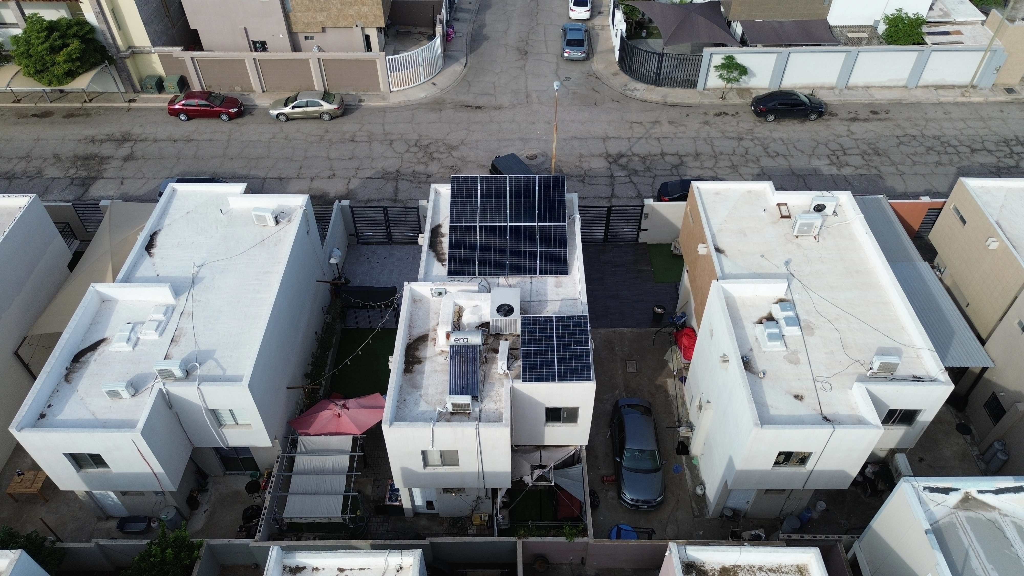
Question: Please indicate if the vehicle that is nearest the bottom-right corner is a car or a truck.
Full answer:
It turns out the vehicle that is nearest the bottom-right corner is a car.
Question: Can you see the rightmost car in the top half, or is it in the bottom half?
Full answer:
The rightmost car sits in the top half of the picture.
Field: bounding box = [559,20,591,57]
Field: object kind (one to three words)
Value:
car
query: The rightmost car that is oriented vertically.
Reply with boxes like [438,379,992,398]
[611,398,671,511]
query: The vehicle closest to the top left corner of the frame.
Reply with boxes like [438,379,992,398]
[166,90,245,122]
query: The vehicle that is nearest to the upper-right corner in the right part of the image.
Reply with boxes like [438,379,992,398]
[752,89,829,123]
